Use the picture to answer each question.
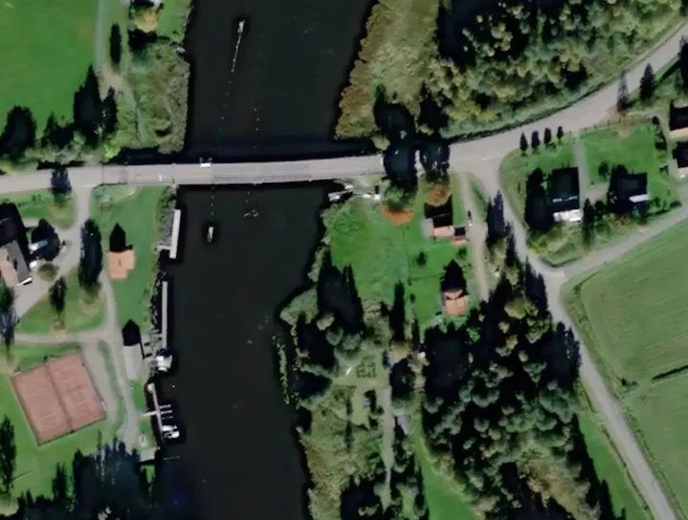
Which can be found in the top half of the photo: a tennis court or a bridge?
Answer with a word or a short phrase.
bridge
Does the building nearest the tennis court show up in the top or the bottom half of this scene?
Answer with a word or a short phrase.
bottom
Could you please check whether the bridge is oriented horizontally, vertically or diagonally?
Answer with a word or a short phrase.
horizontally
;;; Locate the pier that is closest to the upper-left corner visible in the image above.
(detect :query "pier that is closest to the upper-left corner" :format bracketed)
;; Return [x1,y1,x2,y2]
[164,210,180,258]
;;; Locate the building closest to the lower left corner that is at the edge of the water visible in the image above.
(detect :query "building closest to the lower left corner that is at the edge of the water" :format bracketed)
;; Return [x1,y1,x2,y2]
[118,340,146,381]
